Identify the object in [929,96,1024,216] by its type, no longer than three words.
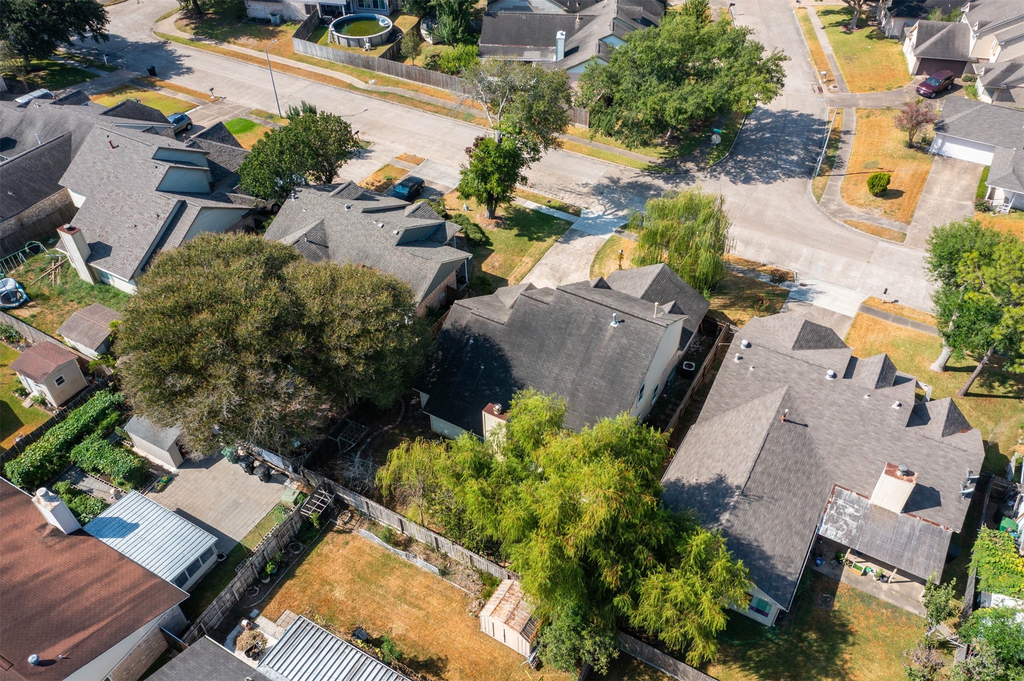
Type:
house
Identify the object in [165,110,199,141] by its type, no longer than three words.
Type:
car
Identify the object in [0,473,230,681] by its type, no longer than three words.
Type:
house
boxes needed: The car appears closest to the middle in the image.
[384,173,432,201]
